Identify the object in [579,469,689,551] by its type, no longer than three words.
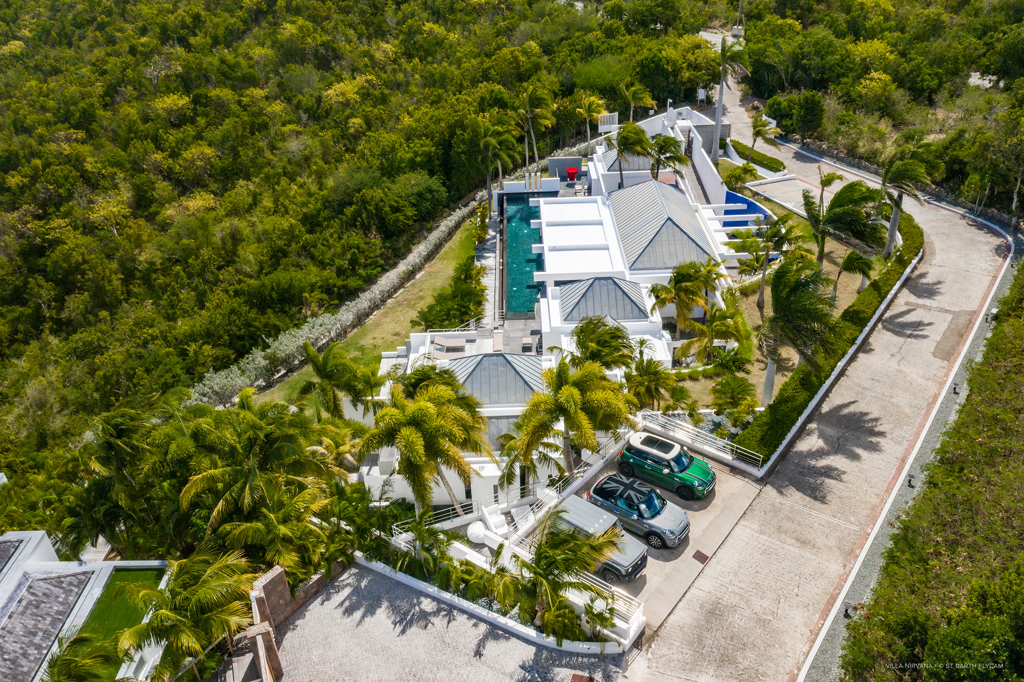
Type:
car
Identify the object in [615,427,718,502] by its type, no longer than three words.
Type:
car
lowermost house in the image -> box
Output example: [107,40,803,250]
[0,529,178,682]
